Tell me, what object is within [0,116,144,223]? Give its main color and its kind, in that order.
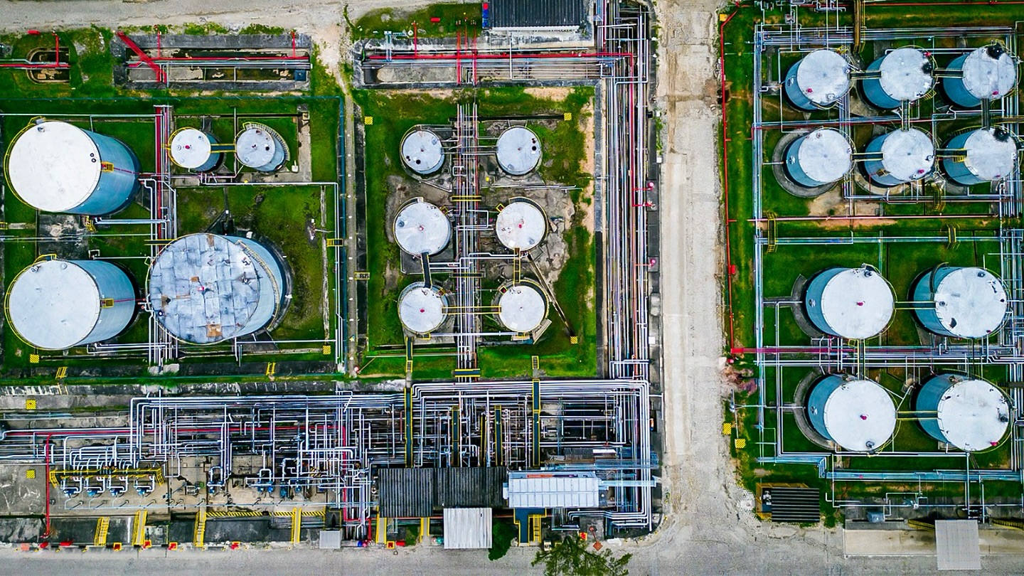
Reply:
white storage tank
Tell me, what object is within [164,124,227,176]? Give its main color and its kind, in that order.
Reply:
white storage tank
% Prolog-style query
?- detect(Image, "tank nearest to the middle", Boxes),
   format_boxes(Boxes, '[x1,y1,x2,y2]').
[495,280,550,337]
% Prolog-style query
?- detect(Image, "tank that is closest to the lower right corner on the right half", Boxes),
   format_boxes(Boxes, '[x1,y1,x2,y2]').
[913,372,1018,457]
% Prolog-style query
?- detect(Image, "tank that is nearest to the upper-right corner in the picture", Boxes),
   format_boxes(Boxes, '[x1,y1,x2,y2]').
[941,40,1024,110]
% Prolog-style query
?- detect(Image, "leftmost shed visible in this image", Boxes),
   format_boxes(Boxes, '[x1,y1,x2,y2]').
[378,462,433,517]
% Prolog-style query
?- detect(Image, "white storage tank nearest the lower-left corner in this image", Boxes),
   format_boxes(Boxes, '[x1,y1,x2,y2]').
[0,255,143,356]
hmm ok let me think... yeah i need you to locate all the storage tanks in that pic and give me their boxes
[495,280,550,337]
[231,121,289,177]
[913,372,1018,457]
[856,41,941,119]
[941,120,1024,195]
[852,123,942,197]
[0,116,144,223]
[395,281,447,338]
[783,50,856,113]
[492,195,550,252]
[773,123,859,200]
[493,124,546,181]
[0,255,143,356]
[142,229,293,347]
[164,124,227,176]
[795,372,905,457]
[941,40,1024,110]
[398,127,448,179]
[392,195,452,258]
[793,262,901,349]
[907,264,1016,345]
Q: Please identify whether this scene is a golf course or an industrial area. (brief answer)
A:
industrial area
